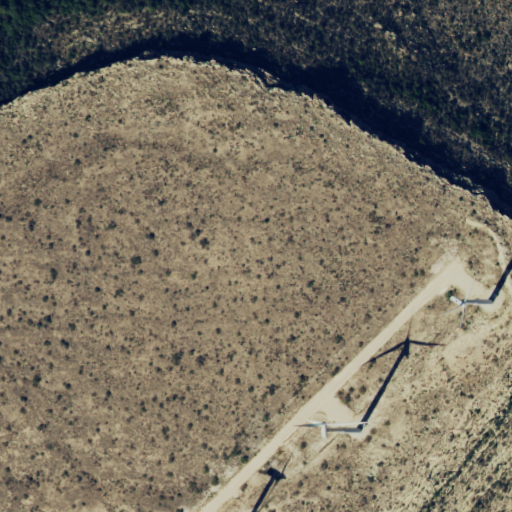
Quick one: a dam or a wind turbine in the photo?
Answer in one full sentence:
Visible in the photo is a wind turbine.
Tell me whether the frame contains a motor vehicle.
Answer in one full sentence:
No, the frame has no motor vehicle in it.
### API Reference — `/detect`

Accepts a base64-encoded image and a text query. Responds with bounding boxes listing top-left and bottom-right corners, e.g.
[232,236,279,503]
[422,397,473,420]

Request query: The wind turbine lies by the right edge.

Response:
[444,272,496,328]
